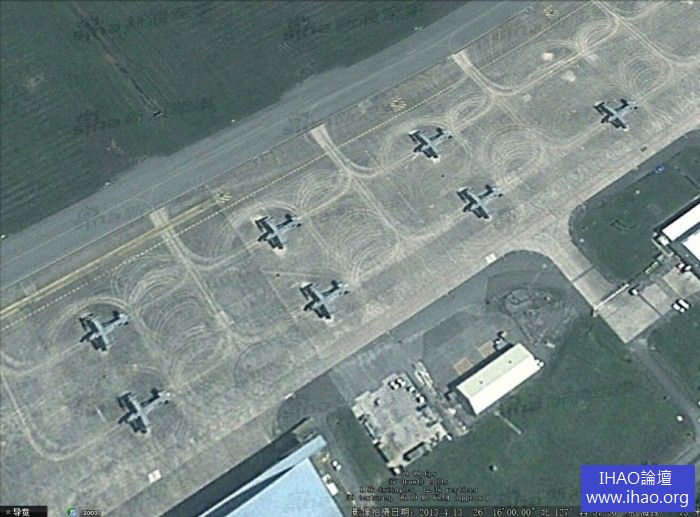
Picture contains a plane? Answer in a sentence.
Yes, there is a plane in the image.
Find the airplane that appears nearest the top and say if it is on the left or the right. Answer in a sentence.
The airplane that appears nearest the top appears in the right half of the scene.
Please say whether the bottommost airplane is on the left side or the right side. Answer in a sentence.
The bottommost airplane sits on the left side.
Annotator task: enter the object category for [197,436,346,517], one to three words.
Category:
hangar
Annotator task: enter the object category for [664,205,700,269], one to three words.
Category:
building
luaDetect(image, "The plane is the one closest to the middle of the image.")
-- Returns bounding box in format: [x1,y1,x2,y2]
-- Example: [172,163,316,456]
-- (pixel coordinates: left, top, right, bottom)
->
[310,283,350,319]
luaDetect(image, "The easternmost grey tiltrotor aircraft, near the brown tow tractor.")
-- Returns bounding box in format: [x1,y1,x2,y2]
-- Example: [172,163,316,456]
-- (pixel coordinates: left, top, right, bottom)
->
[601,98,643,134]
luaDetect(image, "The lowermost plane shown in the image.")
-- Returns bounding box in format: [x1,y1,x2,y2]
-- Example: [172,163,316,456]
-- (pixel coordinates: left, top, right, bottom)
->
[124,394,166,430]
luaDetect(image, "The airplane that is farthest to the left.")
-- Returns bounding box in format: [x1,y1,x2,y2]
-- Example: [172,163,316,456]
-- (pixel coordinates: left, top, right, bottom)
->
[85,314,126,350]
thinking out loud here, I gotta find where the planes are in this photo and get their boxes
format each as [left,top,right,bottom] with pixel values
[413,125,456,162]
[463,183,506,220]
[310,283,350,319]
[124,394,166,430]
[601,98,643,134]
[264,213,304,250]
[85,314,126,350]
